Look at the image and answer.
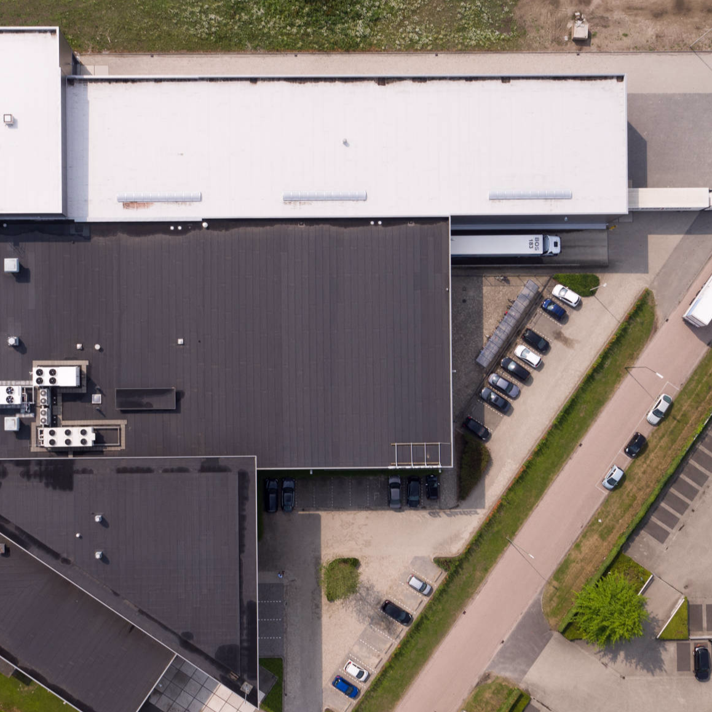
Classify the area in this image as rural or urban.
urban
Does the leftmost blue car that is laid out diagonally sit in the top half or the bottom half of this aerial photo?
bottom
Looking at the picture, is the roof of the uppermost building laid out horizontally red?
No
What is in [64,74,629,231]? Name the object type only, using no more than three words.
building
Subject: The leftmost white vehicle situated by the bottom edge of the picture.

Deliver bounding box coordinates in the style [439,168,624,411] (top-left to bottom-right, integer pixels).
[342,660,370,682]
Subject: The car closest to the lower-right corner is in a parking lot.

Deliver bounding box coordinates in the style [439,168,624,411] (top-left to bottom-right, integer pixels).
[694,647,712,680]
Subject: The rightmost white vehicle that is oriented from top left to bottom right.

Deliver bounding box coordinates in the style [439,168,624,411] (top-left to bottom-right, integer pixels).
[551,284,584,310]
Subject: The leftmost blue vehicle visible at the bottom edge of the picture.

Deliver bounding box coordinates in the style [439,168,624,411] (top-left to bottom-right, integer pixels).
[330,676,360,699]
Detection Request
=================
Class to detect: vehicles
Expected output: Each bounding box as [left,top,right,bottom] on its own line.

[501,358,532,382]
[406,477,422,509]
[694,647,712,680]
[381,600,413,626]
[406,574,432,597]
[539,298,570,321]
[602,464,624,490]
[624,431,648,458]
[450,237,560,259]
[683,273,712,327]
[551,284,584,310]
[512,345,544,369]
[342,660,370,682]
[520,329,550,353]
[425,476,439,500]
[489,374,521,399]
[628,188,712,212]
[462,416,492,440]
[647,394,674,425]
[330,676,360,699]
[479,387,511,413]
[387,476,402,509]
